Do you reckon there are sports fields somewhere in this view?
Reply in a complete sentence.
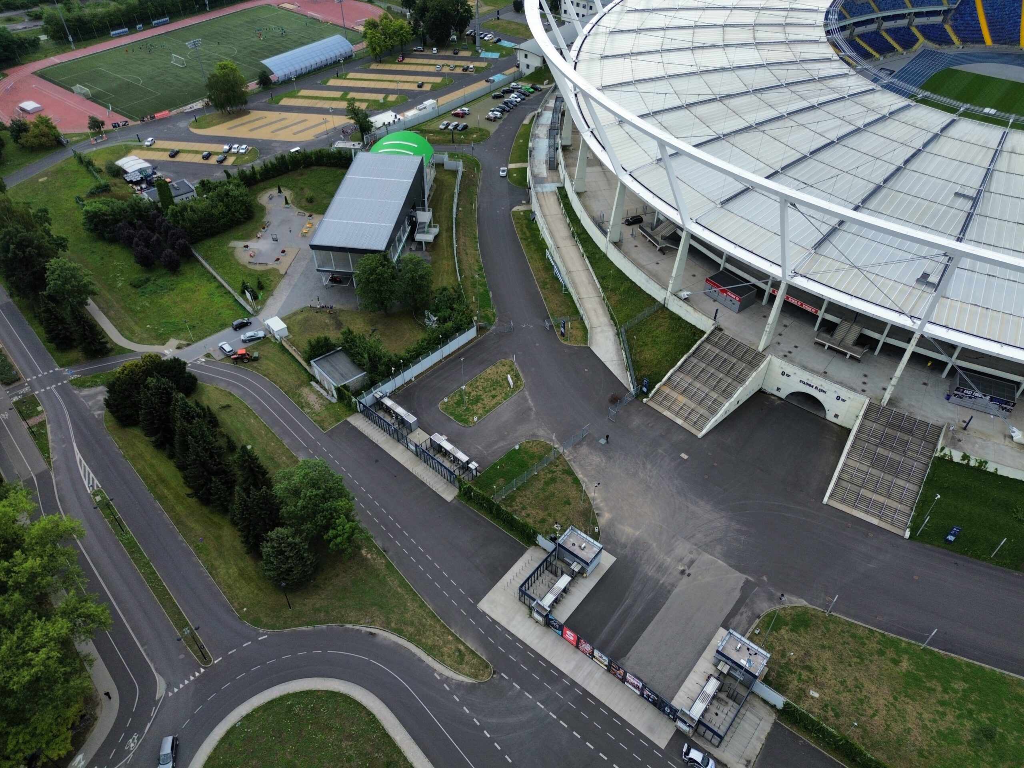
Yes, you can see a sports field in this photo.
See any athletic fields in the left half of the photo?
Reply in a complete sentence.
Yes, you'll find an athletic field in the left half of the photo.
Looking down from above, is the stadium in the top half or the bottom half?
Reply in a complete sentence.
The stadium is in the top half of the image.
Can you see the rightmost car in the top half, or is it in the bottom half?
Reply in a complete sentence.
It is in the bottom half that the rightmost car appears.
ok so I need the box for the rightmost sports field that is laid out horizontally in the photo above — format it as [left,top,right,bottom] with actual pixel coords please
[909,68,1024,131]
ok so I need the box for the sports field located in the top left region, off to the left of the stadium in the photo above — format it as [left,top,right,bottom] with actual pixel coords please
[32,2,357,122]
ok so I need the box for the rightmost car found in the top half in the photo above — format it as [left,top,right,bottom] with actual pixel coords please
[625,213,645,225]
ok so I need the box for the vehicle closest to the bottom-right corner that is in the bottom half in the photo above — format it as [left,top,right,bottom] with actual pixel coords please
[679,739,715,768]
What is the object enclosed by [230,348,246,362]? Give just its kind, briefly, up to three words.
work vehicle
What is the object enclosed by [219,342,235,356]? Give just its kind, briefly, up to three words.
car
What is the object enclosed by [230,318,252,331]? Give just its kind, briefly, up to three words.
vehicle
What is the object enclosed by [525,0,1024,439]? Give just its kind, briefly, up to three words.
stadium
